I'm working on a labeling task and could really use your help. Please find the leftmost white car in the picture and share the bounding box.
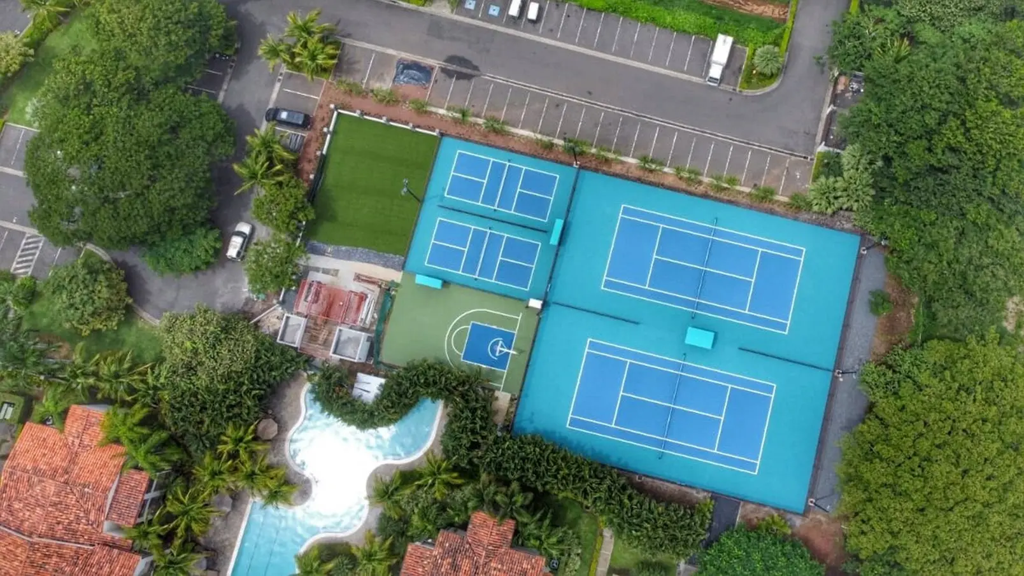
[226,223,253,260]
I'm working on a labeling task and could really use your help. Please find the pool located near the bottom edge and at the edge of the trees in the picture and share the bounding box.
[226,377,442,576]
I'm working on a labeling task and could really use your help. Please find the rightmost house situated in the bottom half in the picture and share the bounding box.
[399,507,545,576]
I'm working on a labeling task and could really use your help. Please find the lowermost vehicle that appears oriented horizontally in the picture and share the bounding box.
[270,109,308,129]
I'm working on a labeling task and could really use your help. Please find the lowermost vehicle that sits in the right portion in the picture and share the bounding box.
[705,28,736,87]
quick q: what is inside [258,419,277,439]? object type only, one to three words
umbrella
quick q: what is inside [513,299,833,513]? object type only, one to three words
tennis court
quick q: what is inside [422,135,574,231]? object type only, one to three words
sports court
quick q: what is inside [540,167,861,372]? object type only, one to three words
tennis court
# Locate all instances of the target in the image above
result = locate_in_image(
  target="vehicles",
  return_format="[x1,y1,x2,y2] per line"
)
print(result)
[528,2,541,25]
[705,28,736,87]
[226,223,253,260]
[270,109,308,129]
[509,0,522,21]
